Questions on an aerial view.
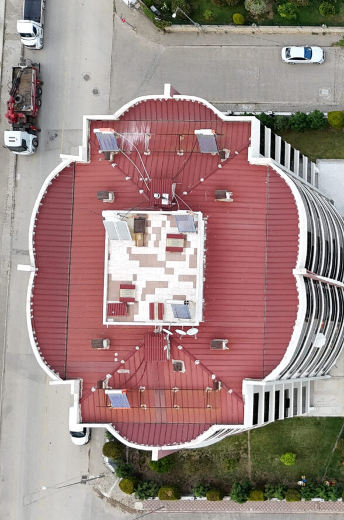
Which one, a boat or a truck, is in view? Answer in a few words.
truck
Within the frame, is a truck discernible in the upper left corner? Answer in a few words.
Yes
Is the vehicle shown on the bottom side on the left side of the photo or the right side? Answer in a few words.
left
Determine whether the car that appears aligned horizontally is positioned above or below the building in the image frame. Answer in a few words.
above it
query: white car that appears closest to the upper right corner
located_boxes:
[283,45,323,65]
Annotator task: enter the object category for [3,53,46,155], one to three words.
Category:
truck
